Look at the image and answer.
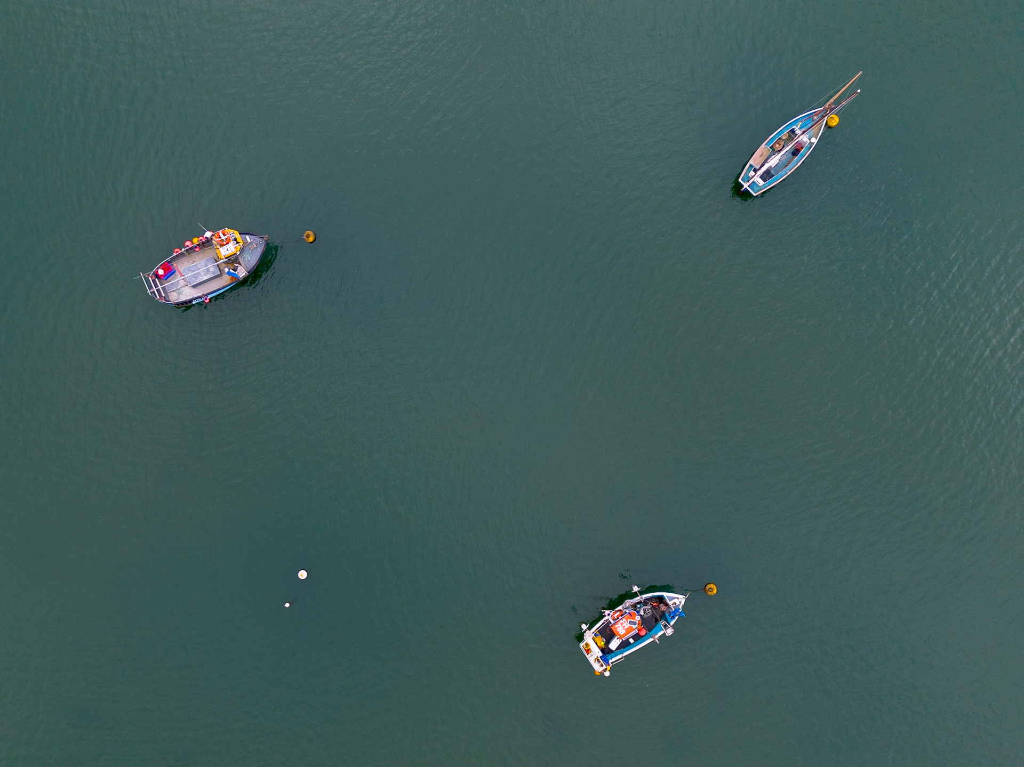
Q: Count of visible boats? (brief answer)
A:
3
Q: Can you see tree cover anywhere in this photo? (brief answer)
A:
No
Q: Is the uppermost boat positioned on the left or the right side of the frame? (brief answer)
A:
right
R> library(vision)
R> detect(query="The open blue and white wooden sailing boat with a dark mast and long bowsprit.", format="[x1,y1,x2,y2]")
[738,71,863,196]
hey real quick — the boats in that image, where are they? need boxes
[738,71,863,196]
[140,223,270,305]
[579,585,691,671]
